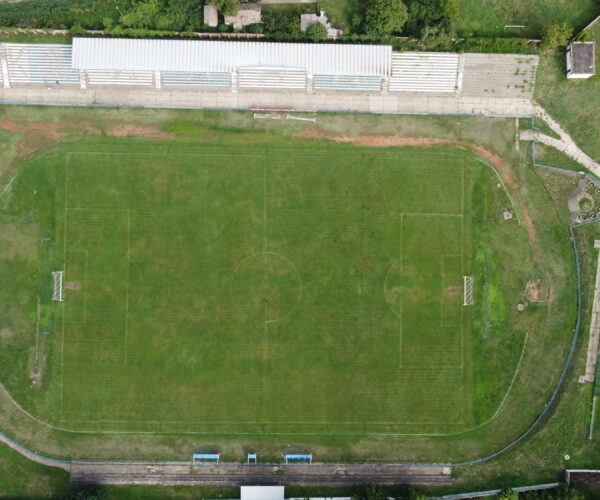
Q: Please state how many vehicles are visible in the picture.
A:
none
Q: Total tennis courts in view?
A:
0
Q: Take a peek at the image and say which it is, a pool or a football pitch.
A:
football pitch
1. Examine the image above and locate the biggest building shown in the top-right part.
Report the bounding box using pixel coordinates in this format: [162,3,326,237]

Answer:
[567,41,596,78]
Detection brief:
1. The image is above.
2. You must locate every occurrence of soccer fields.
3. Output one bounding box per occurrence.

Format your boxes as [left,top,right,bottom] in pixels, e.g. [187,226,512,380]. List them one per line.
[57,148,466,428]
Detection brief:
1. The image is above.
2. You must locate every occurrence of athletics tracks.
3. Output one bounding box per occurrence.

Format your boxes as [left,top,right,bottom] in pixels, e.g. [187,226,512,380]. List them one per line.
[0,117,570,461]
